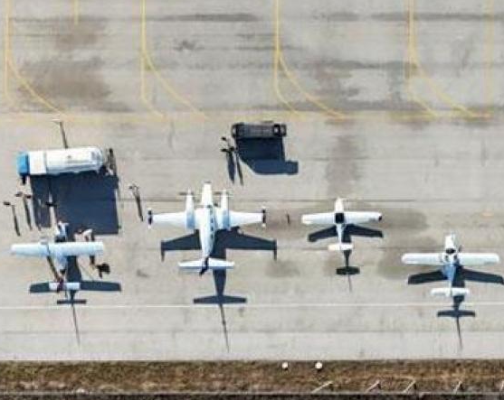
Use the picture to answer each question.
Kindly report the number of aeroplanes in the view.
four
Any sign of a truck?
Yes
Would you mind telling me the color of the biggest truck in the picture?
white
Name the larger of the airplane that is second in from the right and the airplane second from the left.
the airplane second from the left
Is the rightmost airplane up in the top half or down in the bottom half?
bottom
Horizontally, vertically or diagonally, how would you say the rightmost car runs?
horizontally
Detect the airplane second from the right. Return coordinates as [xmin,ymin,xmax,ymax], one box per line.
[301,195,381,254]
